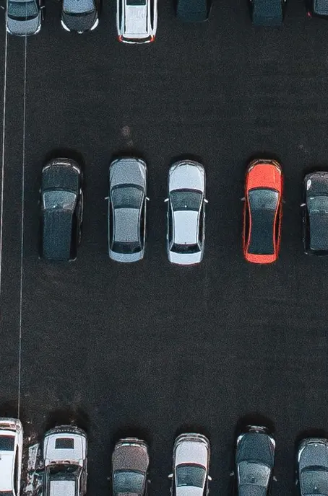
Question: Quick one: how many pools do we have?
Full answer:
There are no pools in this view.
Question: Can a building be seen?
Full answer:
No, no building can be seen from above.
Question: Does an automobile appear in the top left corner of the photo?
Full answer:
Yes, the scene does show an automobile in the top left corner of the photo.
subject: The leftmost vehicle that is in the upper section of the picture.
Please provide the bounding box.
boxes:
[2,0,45,37]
